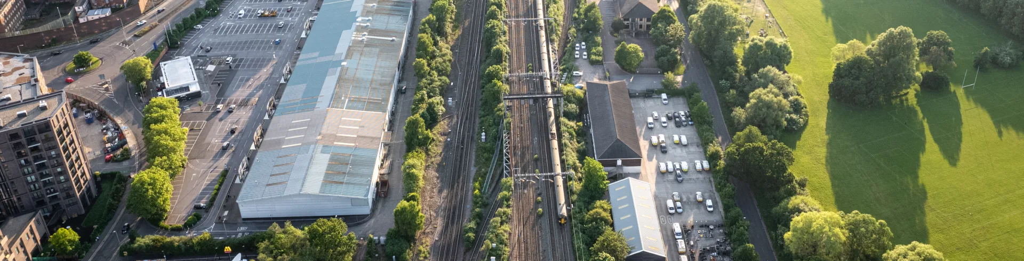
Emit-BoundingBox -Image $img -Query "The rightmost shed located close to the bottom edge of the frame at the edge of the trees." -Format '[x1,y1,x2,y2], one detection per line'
[609,178,667,261]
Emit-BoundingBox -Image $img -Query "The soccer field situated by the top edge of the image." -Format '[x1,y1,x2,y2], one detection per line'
[832,0,983,43]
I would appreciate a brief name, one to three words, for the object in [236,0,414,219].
warehouse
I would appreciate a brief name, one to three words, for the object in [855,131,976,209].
soccer field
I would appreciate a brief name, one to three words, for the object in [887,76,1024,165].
sports field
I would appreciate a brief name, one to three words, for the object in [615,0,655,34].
building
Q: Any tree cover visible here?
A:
Yes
